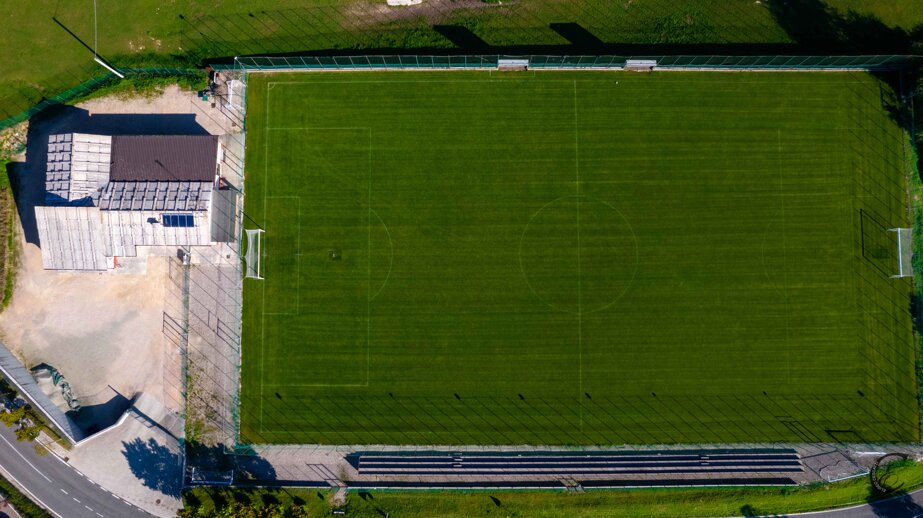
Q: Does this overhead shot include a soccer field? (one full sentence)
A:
Yes, the image includes a soccer field.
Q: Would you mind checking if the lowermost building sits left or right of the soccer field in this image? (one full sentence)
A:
You can see the lowermost building positioned to the left of the soccer field.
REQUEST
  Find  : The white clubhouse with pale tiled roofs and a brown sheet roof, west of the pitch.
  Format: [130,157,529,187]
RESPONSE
[34,132,240,271]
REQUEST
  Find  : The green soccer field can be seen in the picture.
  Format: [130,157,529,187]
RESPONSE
[240,69,919,444]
